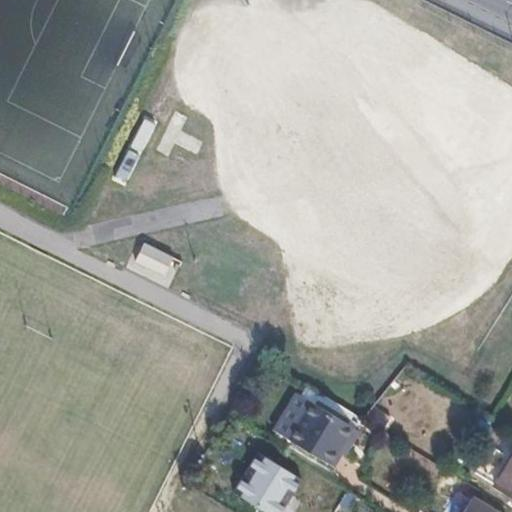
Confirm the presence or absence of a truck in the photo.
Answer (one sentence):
Yes, there is a truck in the image.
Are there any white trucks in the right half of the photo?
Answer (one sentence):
No, looking in the right half of the photo, there is no white truck.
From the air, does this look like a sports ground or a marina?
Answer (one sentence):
It's a sports ground.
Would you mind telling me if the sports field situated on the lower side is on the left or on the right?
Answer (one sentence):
The sports field situated on the lower side sits on the left side.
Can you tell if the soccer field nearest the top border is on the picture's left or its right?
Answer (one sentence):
The soccer field nearest the top border appears in the left half of the scene.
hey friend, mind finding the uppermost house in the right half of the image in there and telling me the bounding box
[272,388,357,467]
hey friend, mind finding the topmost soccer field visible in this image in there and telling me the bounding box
[0,0,182,208]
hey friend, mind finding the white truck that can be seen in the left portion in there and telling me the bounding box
[112,117,158,185]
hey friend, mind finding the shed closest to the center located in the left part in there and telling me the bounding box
[127,244,182,288]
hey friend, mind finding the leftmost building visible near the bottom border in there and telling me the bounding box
[236,458,302,512]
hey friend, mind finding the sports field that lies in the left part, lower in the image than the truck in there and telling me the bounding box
[0,237,236,512]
